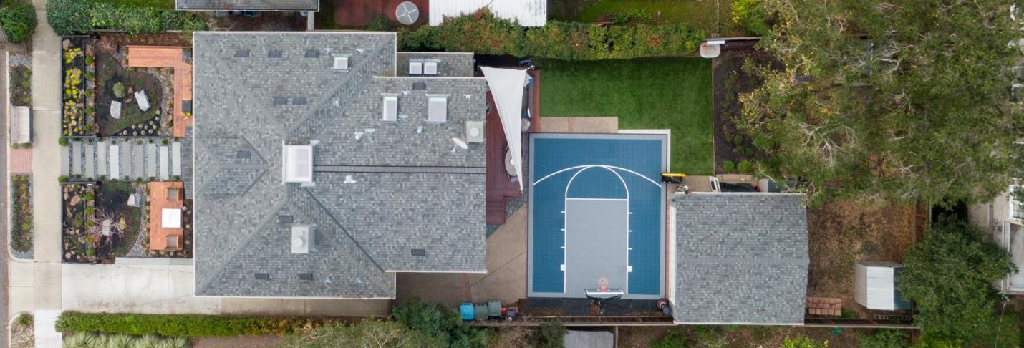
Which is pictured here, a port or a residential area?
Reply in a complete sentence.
The area seen from above is a residential area.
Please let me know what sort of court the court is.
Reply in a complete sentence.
The court in the image is a basketball court.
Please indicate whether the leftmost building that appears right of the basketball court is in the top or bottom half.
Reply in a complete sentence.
The leftmost building that appears right of the basketball court is in the bottom half of the image.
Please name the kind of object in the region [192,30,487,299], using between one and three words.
house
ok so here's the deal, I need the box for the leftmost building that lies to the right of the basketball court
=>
[669,191,812,326]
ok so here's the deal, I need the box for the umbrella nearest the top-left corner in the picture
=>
[395,1,420,25]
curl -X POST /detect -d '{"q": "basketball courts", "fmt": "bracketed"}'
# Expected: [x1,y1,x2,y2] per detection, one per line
[528,134,670,299]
